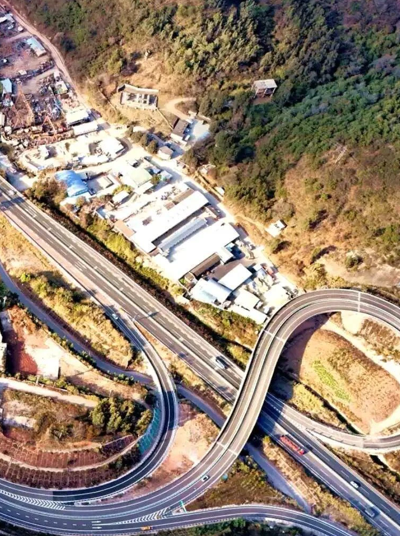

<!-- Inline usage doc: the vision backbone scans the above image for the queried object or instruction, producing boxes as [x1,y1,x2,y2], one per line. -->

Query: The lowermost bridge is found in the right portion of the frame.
[292,510,333,536]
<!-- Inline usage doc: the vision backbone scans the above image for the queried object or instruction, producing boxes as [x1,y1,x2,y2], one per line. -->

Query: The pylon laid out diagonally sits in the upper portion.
[331,146,349,167]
